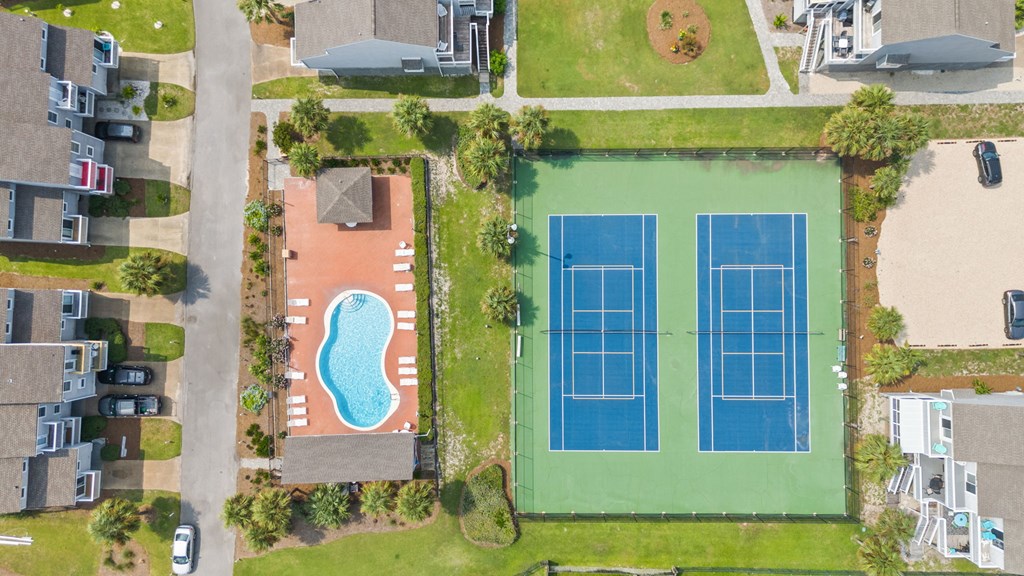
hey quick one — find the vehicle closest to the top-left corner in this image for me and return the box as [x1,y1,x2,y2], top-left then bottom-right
[98,117,146,140]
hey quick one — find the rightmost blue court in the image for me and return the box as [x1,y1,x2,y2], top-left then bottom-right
[697,212,810,453]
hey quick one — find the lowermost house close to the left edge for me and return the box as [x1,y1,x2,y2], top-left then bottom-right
[0,439,103,519]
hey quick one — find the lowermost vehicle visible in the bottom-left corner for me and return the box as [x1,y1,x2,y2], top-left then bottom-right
[167,525,194,576]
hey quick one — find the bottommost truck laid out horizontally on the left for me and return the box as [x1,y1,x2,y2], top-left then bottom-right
[98,394,161,419]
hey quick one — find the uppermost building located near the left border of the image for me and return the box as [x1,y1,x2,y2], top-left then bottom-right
[0,14,119,99]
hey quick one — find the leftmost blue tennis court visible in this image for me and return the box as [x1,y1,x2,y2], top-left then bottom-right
[548,214,660,452]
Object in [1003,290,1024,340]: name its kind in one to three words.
car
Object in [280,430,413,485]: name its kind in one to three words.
building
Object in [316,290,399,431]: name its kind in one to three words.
swimming pool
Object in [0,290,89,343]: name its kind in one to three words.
house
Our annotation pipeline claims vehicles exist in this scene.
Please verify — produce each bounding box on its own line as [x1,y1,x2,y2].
[98,364,151,388]
[98,117,146,140]
[1003,290,1024,340]
[167,525,194,576]
[974,141,1005,187]
[98,394,161,419]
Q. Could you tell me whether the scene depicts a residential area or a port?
residential area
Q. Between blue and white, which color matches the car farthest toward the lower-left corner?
white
